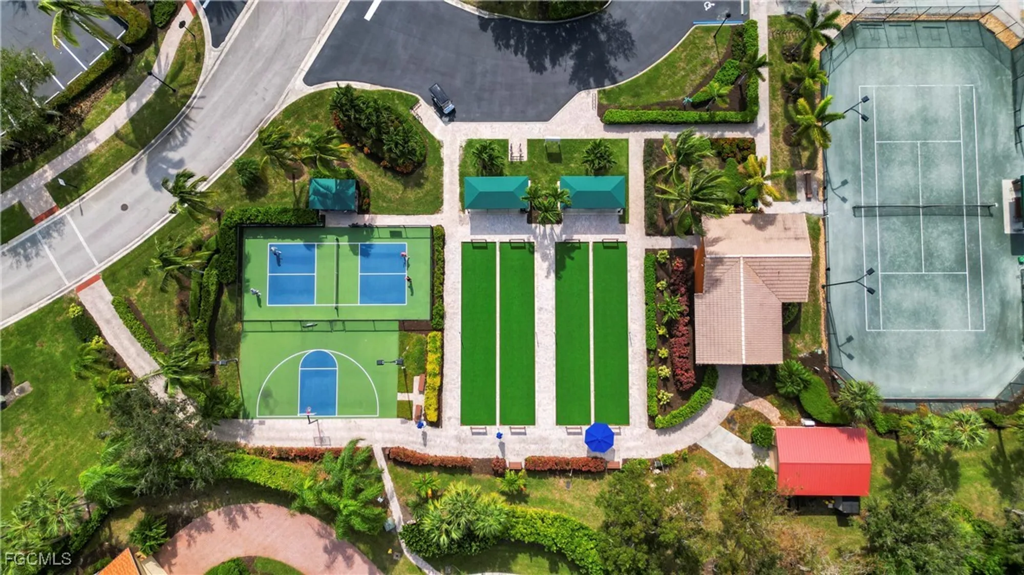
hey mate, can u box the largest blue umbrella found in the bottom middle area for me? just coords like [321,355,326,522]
[585,424,612,451]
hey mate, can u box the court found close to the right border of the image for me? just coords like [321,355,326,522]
[820,21,1024,412]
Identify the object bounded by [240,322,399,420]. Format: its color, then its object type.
green basketball court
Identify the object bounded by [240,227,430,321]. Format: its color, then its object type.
green sports court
